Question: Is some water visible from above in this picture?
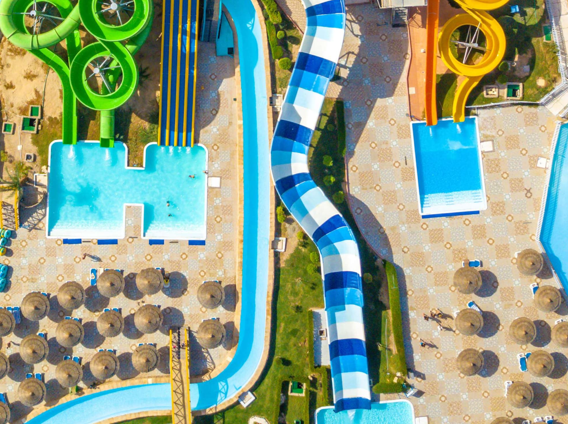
Yes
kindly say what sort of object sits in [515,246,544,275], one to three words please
umbrella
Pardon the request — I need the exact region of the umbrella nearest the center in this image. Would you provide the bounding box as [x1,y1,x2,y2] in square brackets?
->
[195,280,225,310]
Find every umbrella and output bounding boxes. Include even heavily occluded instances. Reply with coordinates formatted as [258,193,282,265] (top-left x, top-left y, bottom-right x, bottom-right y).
[20,334,49,363]
[454,347,484,376]
[90,349,119,378]
[453,306,483,337]
[515,246,544,275]
[195,318,226,348]
[507,316,538,346]
[505,380,534,409]
[525,348,555,378]
[55,279,87,310]
[550,319,568,349]
[16,376,47,406]
[130,343,161,373]
[21,291,51,321]
[452,265,482,295]
[54,317,85,347]
[0,350,11,378]
[195,280,225,310]
[134,266,165,295]
[0,306,16,336]
[96,268,126,297]
[545,386,568,415]
[532,283,561,313]
[54,358,84,388]
[134,304,163,333]
[96,308,125,337]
